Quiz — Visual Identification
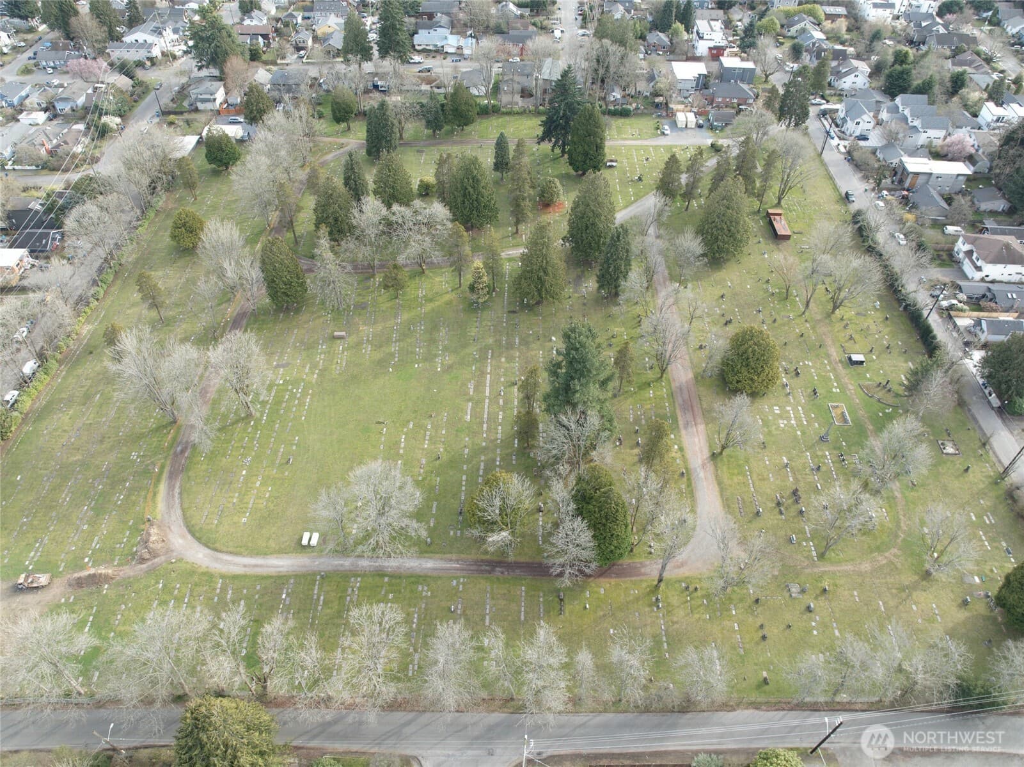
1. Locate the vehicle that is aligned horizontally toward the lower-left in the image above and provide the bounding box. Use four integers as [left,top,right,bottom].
[8,574,50,593]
